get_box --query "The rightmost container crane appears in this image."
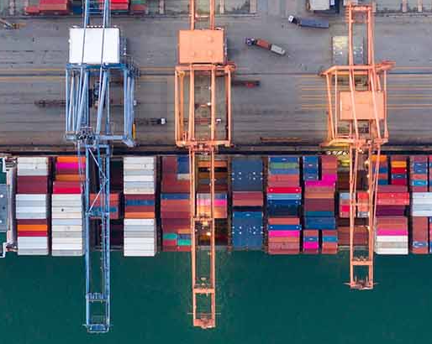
[312,2,399,291]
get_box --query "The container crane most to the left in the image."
[64,0,150,333]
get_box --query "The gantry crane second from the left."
[172,0,245,331]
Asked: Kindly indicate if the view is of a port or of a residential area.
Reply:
port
